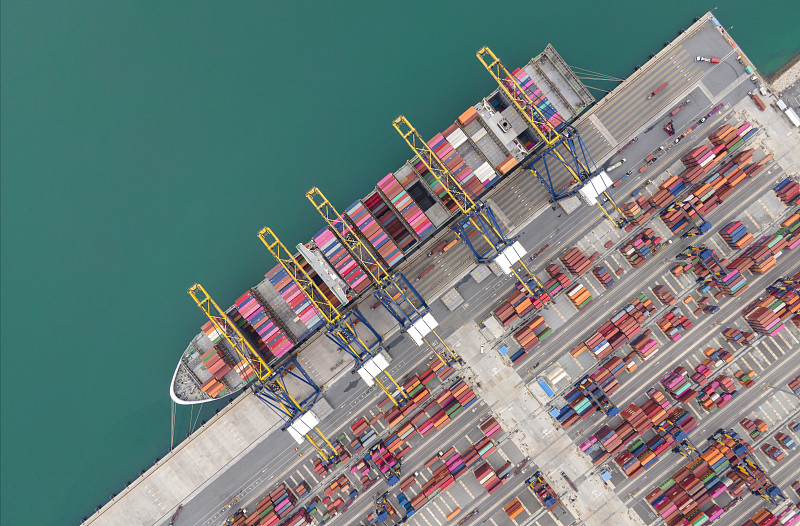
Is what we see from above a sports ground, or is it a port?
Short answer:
port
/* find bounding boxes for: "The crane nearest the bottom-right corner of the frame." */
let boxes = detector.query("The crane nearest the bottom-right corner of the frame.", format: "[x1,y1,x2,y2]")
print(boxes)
[735,459,792,505]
